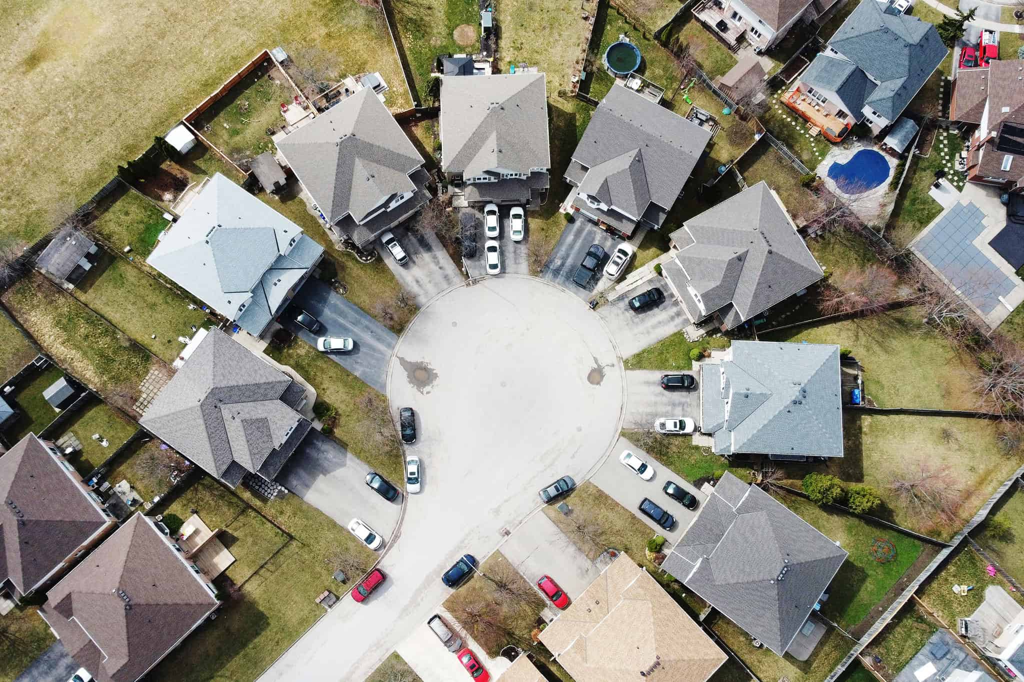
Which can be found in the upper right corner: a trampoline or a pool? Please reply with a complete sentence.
Visible in the upper right corner is a pool.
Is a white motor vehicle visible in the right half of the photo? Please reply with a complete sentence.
Yes, looking in the right half of the photo, one can make out a white motor vehicle.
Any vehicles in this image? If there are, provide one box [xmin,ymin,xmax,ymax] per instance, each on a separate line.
[958,45,978,70]
[399,408,417,443]
[441,554,476,589]
[638,496,676,532]
[661,372,695,389]
[508,208,525,241]
[483,205,499,237]
[347,517,383,553]
[318,335,354,352]
[656,416,695,435]
[404,456,422,493]
[629,288,664,310]
[380,232,408,266]
[425,614,465,654]
[618,447,654,482]
[538,476,576,507]
[604,244,631,279]
[977,27,999,66]
[287,303,322,335]
[663,479,698,511]
[351,568,386,601]
[484,241,501,274]
[536,574,569,610]
[365,471,400,504]
[572,245,606,286]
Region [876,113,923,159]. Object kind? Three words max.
gazebo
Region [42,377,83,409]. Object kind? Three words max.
shed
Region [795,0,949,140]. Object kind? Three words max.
house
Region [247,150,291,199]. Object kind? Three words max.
shed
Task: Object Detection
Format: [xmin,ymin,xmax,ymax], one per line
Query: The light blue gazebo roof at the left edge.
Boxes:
[0,393,27,427]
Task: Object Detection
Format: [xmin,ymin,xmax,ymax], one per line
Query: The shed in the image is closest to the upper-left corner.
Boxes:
[164,124,202,162]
